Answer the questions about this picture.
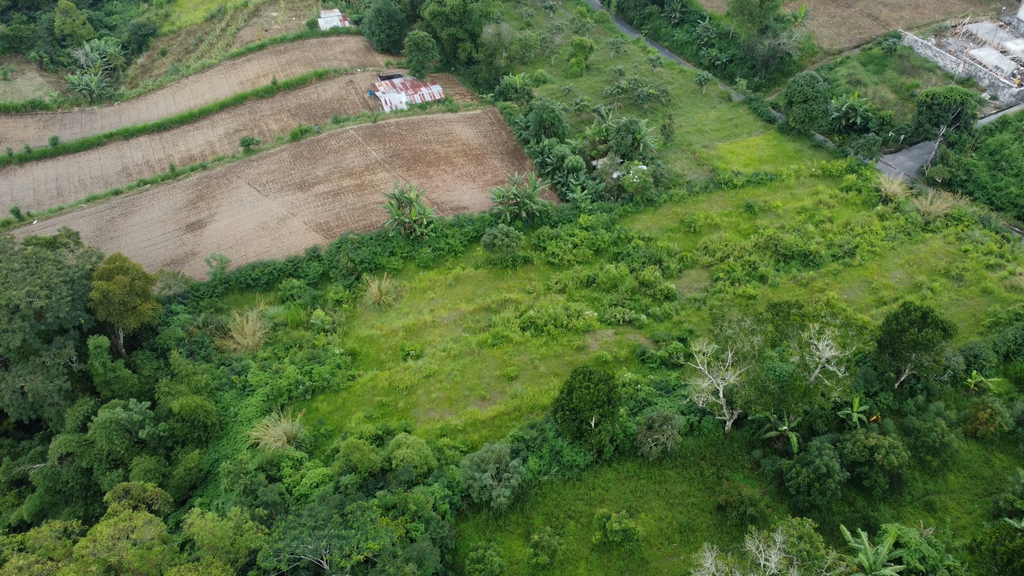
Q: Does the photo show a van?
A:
No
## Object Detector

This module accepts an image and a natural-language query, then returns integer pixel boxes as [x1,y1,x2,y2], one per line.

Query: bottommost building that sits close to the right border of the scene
[937,13,1024,85]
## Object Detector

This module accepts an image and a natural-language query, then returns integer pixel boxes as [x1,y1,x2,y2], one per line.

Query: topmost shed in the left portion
[318,8,350,30]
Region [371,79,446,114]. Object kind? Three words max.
shed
